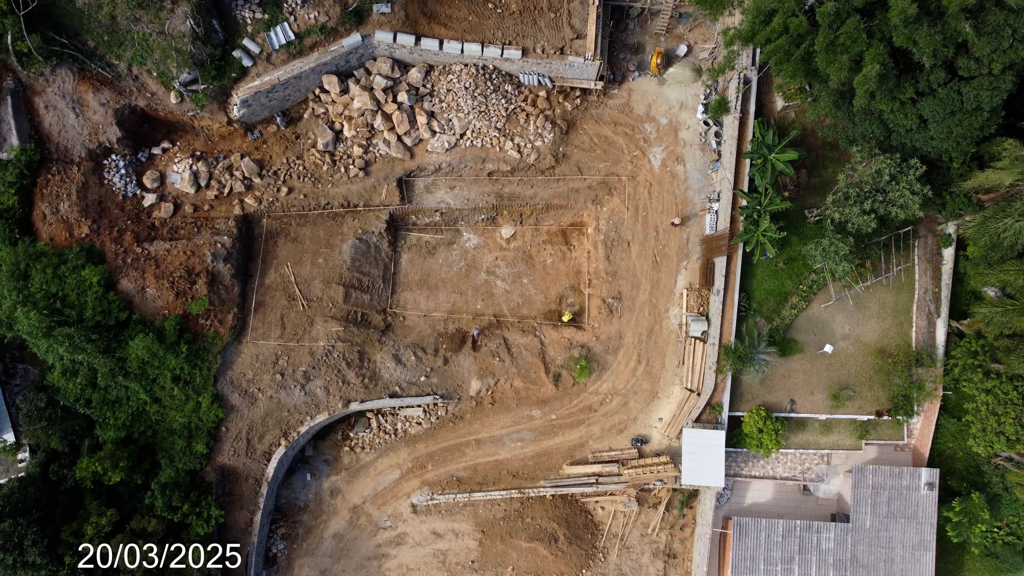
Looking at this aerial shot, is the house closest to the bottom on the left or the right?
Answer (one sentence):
The house closest to the bottom appears in the right half of the scene.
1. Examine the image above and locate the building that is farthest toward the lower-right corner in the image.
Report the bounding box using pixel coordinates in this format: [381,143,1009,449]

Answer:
[718,458,940,576]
